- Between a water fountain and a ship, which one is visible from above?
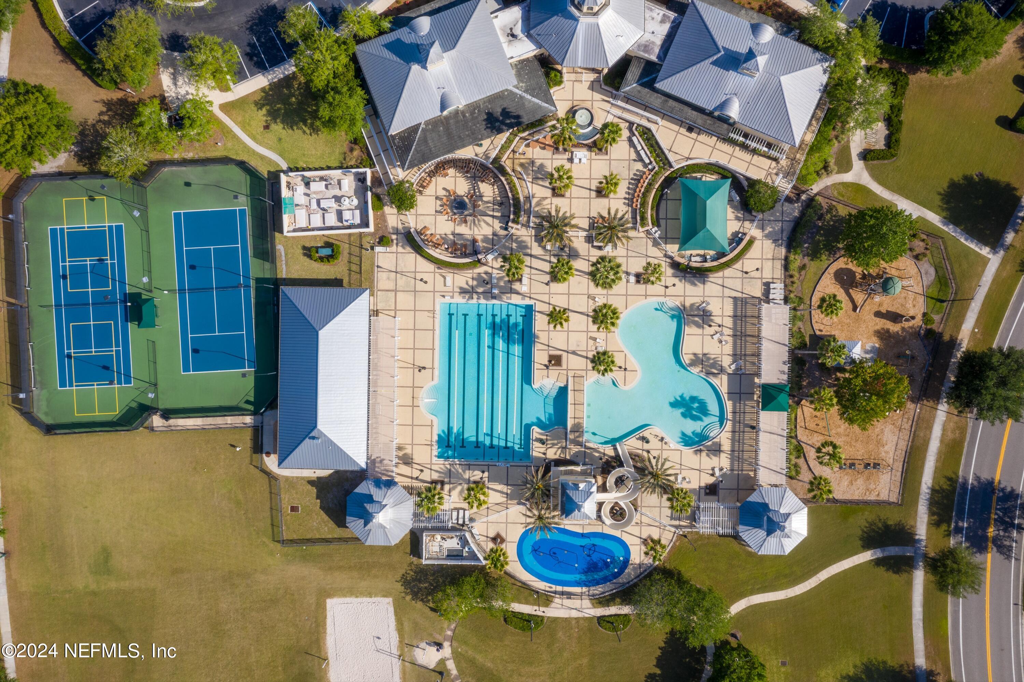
water fountain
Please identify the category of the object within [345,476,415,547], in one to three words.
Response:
gazebo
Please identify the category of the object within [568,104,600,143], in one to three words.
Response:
fountain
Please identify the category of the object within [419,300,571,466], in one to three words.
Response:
swimming pool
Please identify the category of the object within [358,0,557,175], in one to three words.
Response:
building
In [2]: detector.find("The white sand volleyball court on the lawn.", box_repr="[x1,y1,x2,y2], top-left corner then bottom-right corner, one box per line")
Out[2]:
[321,598,402,682]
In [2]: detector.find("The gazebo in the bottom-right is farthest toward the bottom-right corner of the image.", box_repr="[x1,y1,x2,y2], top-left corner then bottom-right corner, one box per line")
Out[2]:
[734,484,807,555]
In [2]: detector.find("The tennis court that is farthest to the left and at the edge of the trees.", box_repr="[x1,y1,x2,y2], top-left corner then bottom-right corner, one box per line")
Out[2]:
[23,178,159,432]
